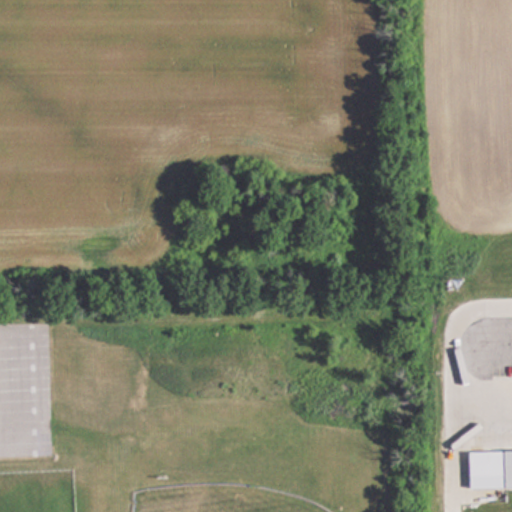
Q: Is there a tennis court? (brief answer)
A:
No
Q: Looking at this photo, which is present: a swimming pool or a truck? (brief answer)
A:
truck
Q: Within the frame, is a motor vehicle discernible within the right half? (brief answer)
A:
Yes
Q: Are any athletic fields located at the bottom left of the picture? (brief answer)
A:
Yes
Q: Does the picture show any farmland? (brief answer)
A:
Yes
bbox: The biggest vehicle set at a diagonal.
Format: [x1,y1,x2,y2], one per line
[446,424,482,459]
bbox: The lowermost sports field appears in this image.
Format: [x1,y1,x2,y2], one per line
[0,470,76,512]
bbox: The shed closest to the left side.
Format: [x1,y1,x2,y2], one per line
[469,452,505,490]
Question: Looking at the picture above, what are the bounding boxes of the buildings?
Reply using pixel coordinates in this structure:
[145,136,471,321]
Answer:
[506,450,512,492]
[469,452,505,490]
